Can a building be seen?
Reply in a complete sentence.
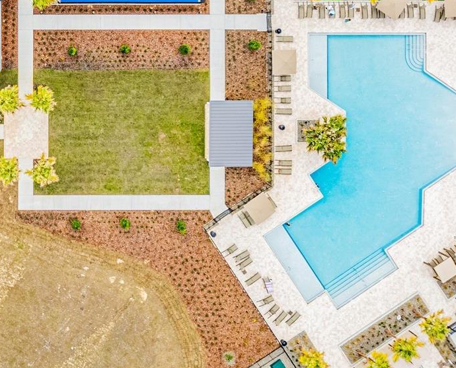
Yes, you can see a building in this photo.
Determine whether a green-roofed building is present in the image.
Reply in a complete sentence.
No, I find no green-roofed building anywhere in the image.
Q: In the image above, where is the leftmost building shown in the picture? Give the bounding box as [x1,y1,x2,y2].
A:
[204,100,253,167]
